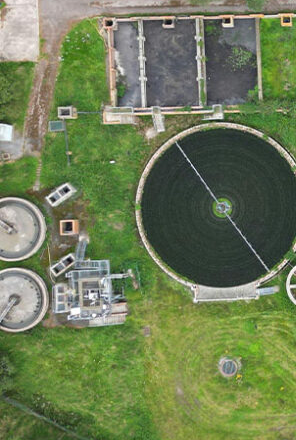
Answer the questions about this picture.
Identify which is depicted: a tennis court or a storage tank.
storage tank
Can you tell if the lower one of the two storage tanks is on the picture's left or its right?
left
